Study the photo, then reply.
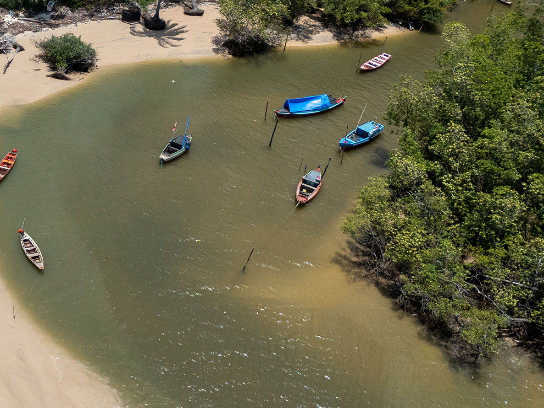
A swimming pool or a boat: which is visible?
boat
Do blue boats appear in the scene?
Yes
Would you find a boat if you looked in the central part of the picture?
Yes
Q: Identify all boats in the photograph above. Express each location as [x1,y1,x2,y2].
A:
[12,212,45,274]
[332,108,386,149]
[158,117,196,164]
[269,93,349,117]
[290,144,324,212]
[0,145,17,181]
[359,51,393,72]
[499,0,514,6]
